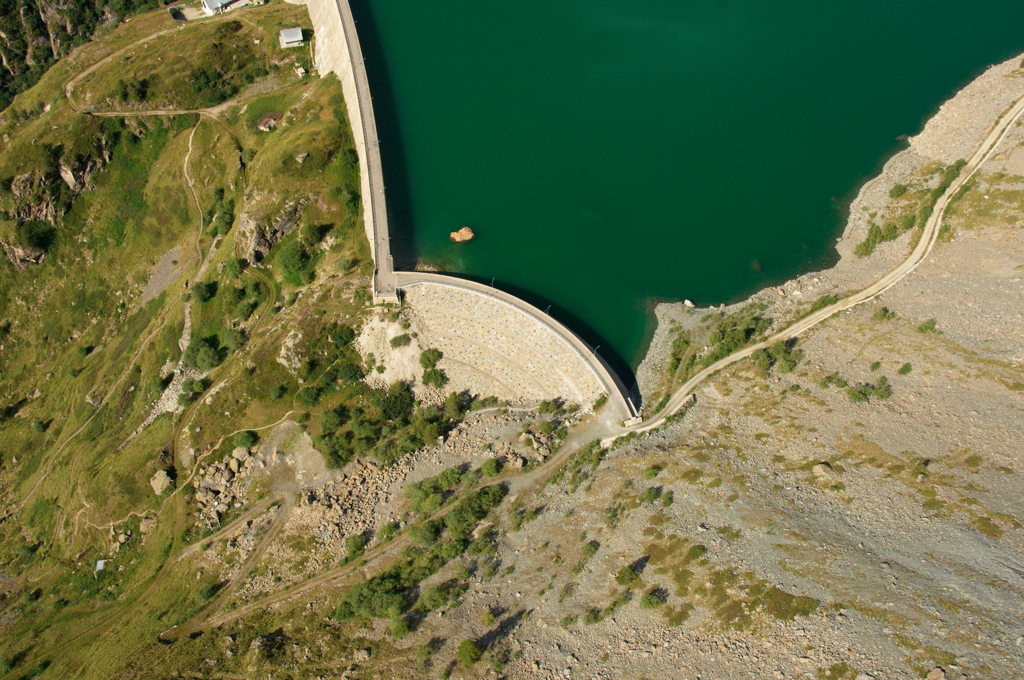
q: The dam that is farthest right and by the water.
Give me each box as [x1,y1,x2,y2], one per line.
[398,270,631,422]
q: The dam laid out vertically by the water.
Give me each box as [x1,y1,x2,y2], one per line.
[282,0,421,307]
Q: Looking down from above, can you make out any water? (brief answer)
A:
Yes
